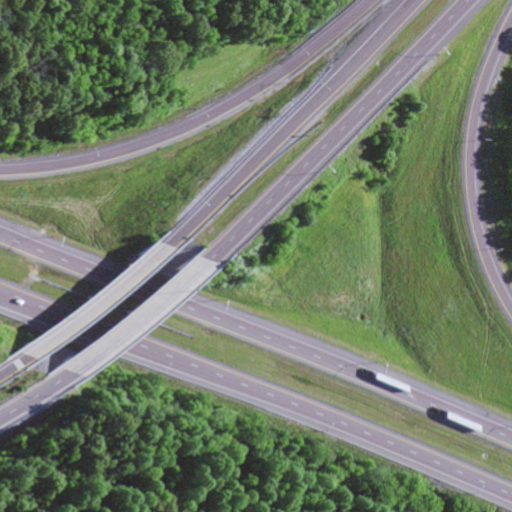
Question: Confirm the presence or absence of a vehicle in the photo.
Yes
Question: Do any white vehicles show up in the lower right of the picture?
Yes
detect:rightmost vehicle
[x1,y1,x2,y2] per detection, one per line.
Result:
[436,408,482,431]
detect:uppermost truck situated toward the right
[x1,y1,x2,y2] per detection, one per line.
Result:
[364,369,410,392]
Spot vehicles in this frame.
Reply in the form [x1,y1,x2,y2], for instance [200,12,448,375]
[436,408,482,431]
[364,369,410,392]
[15,298,25,305]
